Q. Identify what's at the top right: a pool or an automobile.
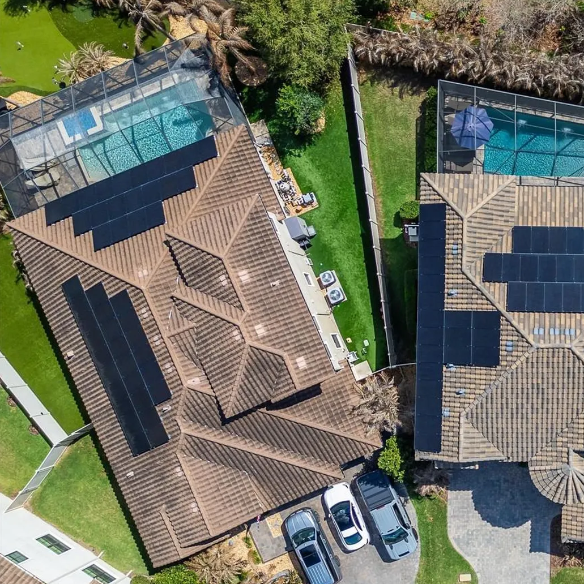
pool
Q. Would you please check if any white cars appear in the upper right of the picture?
No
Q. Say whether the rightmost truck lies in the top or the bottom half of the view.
bottom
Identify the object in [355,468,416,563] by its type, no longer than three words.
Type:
truck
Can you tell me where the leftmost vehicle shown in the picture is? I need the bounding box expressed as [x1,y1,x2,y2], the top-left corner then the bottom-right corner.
[287,504,342,584]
